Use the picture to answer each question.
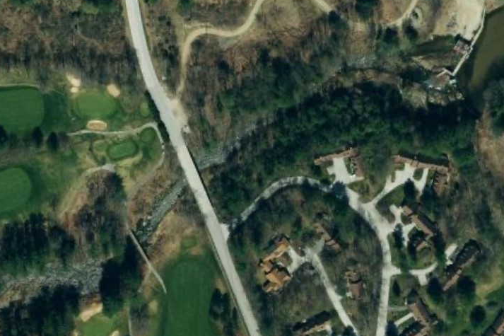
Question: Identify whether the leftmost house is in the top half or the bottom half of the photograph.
bottom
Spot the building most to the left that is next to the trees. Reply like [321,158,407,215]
[261,237,294,294]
